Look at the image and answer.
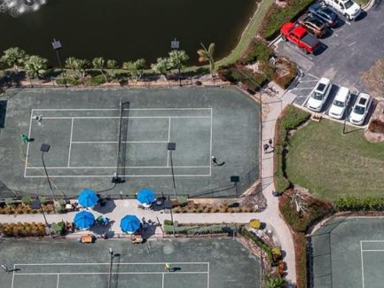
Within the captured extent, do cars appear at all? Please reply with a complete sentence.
Yes, there's a car down there.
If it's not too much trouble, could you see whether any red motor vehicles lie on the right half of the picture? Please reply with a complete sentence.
Yes, a red motor vehicle shows up on the right half of the picture.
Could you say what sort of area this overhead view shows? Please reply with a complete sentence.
The area seen from above is a sports ground.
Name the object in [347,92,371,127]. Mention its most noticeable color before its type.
white car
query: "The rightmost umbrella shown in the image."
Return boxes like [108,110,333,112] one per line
[137,192,156,209]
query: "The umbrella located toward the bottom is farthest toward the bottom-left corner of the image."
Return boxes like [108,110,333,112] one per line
[74,214,96,233]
